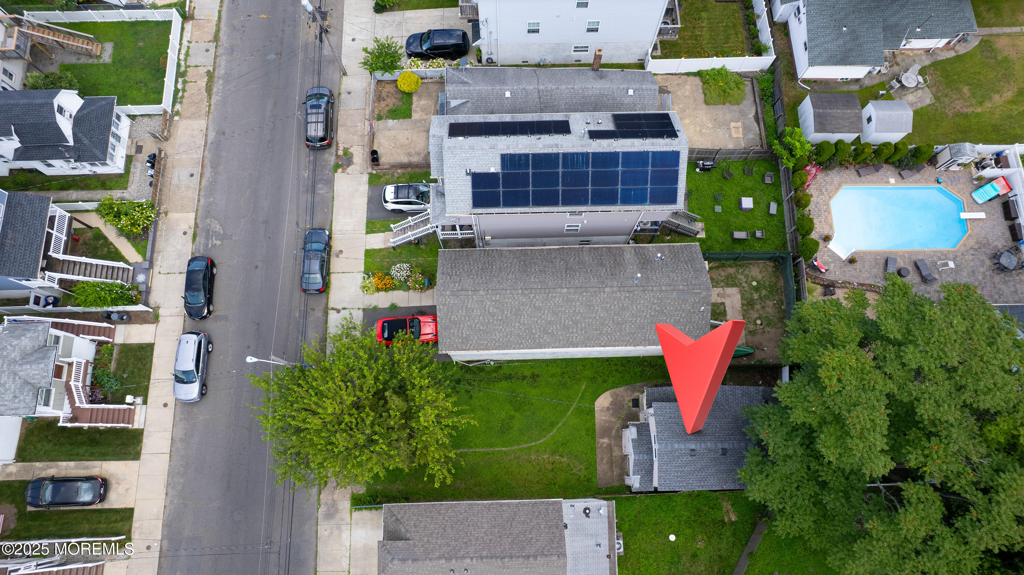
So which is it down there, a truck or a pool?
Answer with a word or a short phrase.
pool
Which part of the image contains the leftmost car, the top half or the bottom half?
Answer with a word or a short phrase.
bottom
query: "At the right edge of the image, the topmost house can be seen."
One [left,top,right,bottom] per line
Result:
[789,0,983,94]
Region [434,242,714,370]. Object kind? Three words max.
house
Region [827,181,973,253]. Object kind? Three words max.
swimming pool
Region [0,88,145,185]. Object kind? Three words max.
house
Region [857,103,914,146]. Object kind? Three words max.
shed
